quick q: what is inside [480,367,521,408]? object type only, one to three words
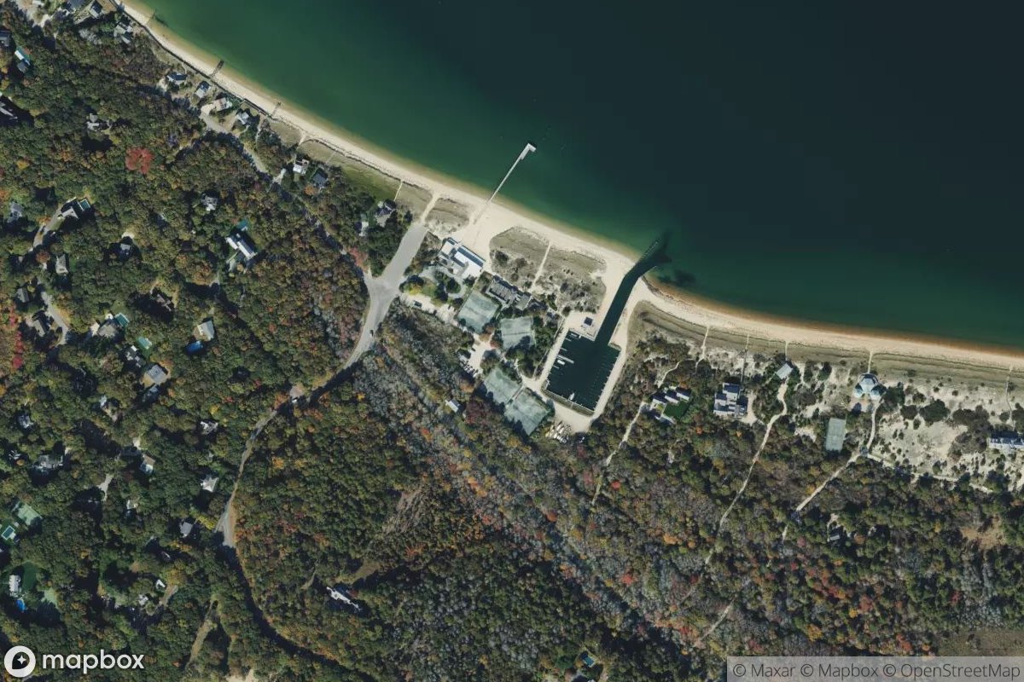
tennis court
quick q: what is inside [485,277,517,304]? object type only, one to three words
building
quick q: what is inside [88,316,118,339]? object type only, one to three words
house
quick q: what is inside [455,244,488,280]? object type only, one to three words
building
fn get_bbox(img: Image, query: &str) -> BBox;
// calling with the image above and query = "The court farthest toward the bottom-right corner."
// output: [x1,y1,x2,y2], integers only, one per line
[826,418,846,453]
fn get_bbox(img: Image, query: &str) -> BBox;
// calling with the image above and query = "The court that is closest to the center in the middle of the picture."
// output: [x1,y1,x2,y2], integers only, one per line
[500,317,534,349]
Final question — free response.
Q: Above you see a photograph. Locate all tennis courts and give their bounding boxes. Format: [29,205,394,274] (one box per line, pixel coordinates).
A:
[480,367,521,408]
[40,588,61,610]
[457,292,498,332]
[505,391,548,434]
[826,418,846,453]
[500,317,534,349]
